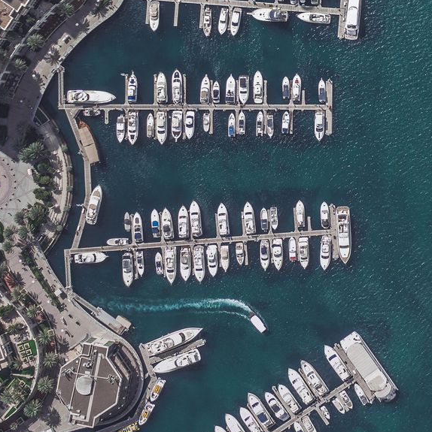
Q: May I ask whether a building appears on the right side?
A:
No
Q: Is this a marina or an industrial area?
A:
marina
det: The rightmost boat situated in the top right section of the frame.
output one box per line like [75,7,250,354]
[345,0,361,42]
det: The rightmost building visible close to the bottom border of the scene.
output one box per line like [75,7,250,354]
[55,340,138,429]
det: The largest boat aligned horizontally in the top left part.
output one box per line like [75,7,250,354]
[66,90,117,104]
